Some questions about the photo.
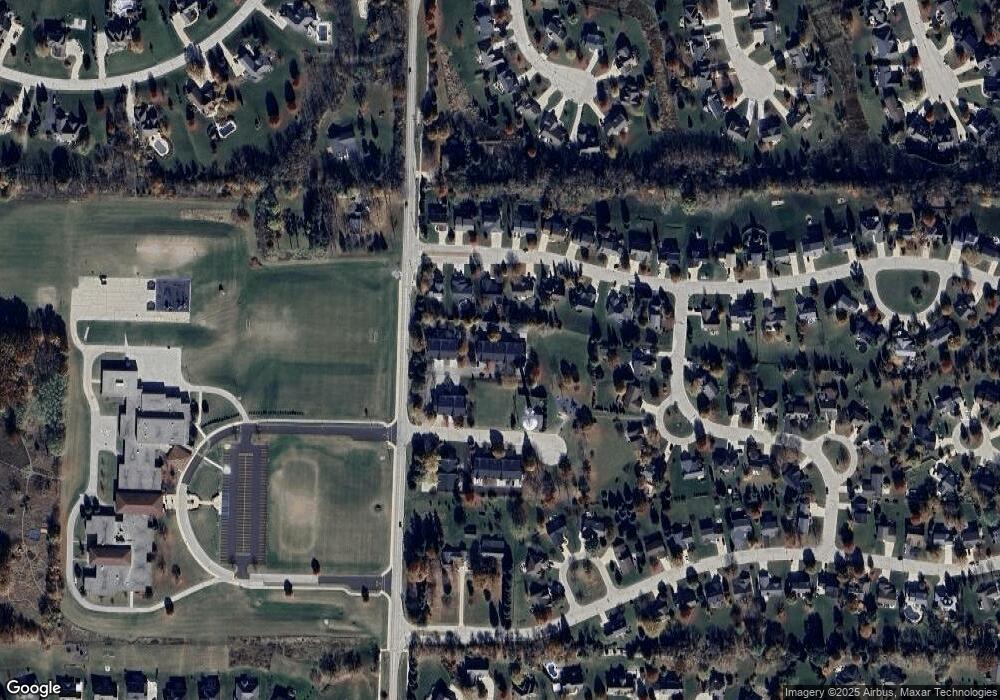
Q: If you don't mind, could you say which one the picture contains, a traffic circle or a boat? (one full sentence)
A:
Visible in the photo is a traffic circle.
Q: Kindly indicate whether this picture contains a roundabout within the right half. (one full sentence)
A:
Yes, the scene does show a roundabout within the right half.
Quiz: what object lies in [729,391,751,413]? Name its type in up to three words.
house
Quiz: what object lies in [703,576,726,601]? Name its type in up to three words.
house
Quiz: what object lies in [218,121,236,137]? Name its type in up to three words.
swimming pool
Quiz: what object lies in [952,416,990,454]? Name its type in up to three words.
roundabout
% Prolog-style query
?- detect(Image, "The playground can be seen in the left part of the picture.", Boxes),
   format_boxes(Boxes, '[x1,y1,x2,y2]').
[156,279,190,312]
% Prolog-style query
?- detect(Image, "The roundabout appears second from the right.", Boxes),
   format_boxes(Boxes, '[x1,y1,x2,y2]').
[865,268,949,323]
